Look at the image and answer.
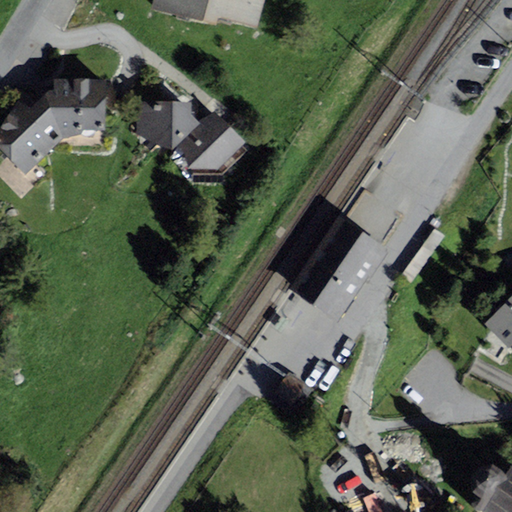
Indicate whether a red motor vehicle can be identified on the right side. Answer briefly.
Yes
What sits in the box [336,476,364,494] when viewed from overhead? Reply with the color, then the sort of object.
red vehicle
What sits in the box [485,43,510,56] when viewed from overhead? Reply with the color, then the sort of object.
black vehicle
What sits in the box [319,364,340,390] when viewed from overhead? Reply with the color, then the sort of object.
white vehicle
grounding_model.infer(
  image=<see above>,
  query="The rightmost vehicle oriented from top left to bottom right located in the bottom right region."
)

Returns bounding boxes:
[402,384,428,406]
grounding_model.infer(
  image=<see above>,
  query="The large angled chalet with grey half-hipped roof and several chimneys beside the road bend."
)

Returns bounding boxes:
[0,77,108,174]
